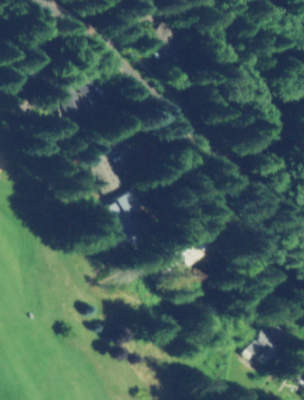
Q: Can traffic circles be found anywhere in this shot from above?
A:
No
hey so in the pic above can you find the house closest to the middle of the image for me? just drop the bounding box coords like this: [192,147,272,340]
[106,190,136,220]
